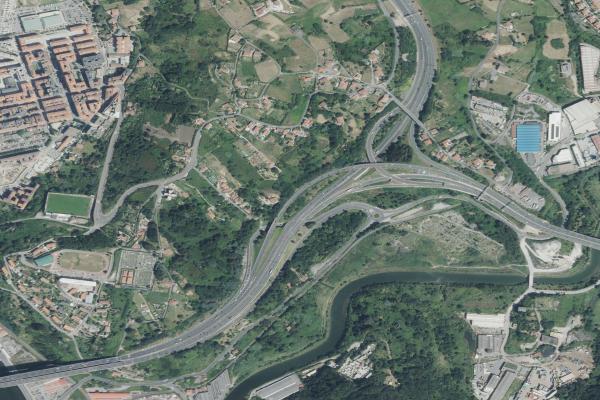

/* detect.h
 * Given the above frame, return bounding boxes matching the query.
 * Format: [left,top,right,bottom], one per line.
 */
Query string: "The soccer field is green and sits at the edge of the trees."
[45,192,93,217]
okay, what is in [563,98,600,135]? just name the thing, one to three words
building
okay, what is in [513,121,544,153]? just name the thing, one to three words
building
